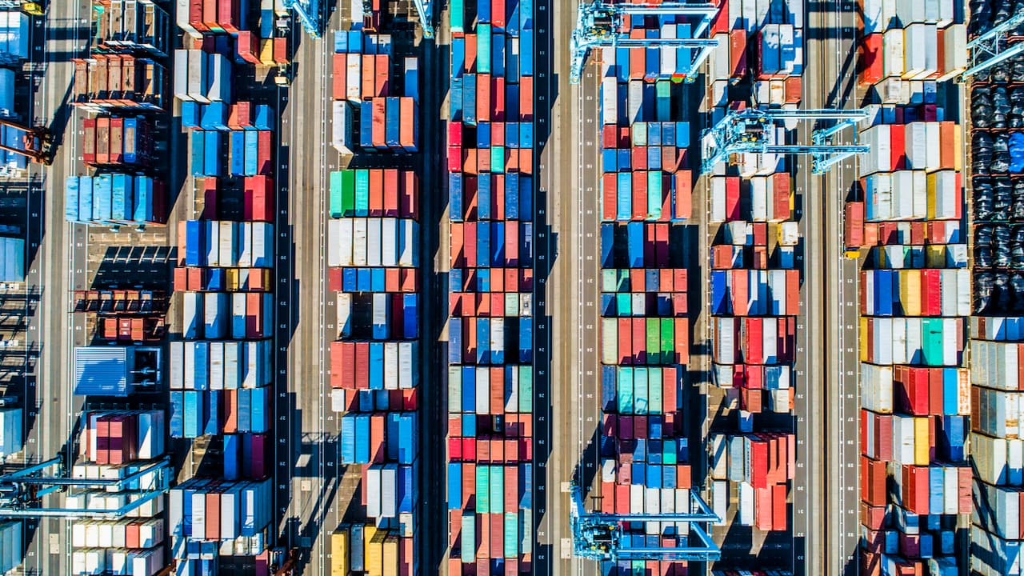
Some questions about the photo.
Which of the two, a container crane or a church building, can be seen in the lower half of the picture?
container crane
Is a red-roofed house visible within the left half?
No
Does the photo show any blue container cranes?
Yes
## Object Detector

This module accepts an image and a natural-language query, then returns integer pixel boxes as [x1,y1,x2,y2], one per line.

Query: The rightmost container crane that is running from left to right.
[700,97,875,175]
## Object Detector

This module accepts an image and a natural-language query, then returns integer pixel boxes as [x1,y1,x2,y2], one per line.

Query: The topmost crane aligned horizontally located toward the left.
[271,0,431,43]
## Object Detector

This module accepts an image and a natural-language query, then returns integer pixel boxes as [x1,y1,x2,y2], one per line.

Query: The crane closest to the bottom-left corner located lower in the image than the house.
[0,448,168,535]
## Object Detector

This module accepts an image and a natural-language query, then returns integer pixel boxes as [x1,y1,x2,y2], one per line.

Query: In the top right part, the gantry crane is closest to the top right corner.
[962,11,1024,86]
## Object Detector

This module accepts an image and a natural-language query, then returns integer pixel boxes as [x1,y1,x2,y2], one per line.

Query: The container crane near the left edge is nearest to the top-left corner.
[0,112,50,169]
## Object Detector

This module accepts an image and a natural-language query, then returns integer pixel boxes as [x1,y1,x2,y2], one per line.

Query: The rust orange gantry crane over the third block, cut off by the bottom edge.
[121,545,296,576]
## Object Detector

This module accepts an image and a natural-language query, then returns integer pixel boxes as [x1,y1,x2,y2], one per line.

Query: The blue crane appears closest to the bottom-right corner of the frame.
[567,478,725,573]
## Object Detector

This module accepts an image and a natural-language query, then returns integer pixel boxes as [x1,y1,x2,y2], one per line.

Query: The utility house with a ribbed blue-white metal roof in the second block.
[72,350,134,395]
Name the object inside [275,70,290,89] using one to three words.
vehicle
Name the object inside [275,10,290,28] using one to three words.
vehicle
